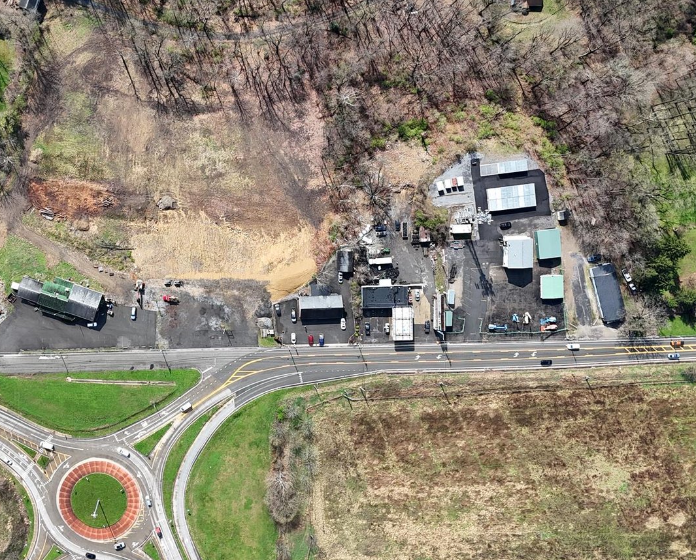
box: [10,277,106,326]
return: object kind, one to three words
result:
building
